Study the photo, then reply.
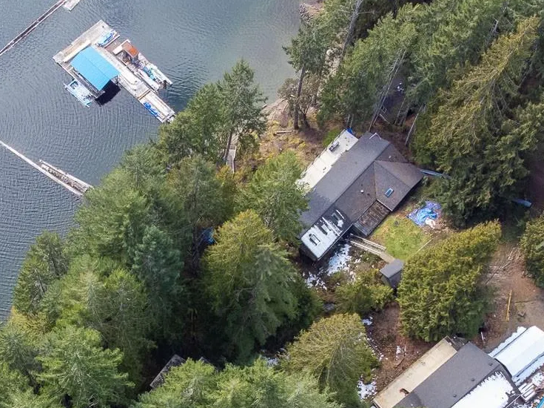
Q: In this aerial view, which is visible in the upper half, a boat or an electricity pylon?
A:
boat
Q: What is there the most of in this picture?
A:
trees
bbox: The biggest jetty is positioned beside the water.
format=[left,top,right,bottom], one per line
[52,20,150,99]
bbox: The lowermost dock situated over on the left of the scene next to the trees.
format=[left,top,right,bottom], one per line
[140,88,177,124]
